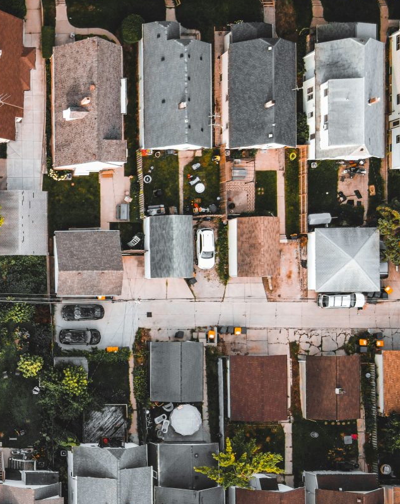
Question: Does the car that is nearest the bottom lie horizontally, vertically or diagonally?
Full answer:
From this overhead view, the car that is nearest the bottom appears to run horizontally.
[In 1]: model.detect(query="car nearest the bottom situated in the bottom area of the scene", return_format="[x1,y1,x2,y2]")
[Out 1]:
[60,327,103,347]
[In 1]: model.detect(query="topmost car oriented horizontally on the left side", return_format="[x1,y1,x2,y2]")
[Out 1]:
[62,301,105,321]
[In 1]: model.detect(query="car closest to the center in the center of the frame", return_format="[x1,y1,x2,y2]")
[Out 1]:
[198,227,220,269]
